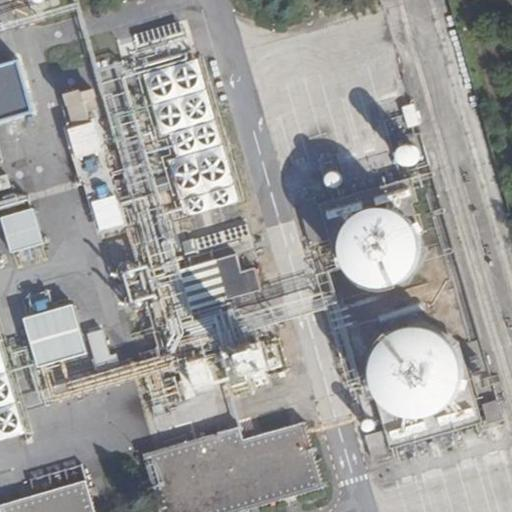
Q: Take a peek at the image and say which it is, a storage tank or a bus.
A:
storage tank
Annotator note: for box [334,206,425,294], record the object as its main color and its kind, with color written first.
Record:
white storage tank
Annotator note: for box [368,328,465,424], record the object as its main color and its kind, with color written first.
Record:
white storage tank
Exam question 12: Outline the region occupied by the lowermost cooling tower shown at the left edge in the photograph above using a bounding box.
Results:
[0,405,28,438]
